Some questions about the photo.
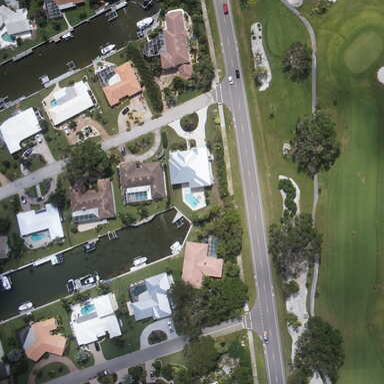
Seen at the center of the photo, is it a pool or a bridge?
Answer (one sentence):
What appears at the center of the photo is a pool.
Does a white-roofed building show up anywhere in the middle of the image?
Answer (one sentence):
Yes, a white-roofed building is visible in the middle of the image.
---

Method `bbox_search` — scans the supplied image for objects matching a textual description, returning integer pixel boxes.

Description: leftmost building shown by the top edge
[0,4,35,39]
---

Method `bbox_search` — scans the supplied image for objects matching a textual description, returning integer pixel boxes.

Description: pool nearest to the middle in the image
[182,187,207,211]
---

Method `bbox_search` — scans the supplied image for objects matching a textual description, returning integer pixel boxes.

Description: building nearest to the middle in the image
[170,147,214,189]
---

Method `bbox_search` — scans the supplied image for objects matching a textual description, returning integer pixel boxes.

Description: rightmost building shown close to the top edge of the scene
[144,9,192,77]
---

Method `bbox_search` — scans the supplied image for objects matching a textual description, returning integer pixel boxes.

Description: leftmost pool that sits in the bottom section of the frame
[23,229,51,250]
